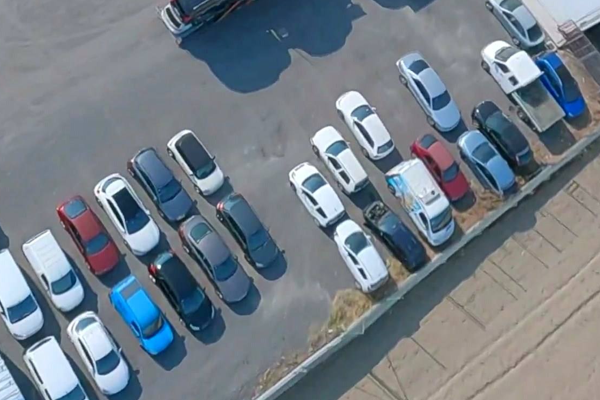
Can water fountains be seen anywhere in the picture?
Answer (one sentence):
No, I can't see a single water fountain in this photo.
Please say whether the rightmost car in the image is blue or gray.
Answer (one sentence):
The rightmost car looks blue in the image.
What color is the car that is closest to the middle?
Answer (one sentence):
The car that is closest to the middle looks white in the image.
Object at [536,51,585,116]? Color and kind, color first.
blue car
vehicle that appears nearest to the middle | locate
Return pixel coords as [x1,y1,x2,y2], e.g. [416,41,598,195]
[286,162,348,232]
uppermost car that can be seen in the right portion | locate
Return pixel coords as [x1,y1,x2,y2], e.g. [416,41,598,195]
[490,0,547,48]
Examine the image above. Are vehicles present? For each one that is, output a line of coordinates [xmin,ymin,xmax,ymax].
[130,147,191,224]
[335,93,394,163]
[95,175,159,258]
[20,336,87,400]
[395,55,457,135]
[108,274,173,359]
[21,230,85,317]
[169,130,224,198]
[410,135,467,203]
[536,51,585,116]
[451,132,510,198]
[149,250,216,335]
[66,314,126,399]
[216,191,278,271]
[331,219,391,295]
[490,0,547,48]
[286,162,348,232]
[310,126,371,197]
[57,197,118,278]
[473,100,532,169]
[362,202,426,277]
[479,42,567,135]
[0,249,42,342]
[375,156,456,250]
[178,216,246,307]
